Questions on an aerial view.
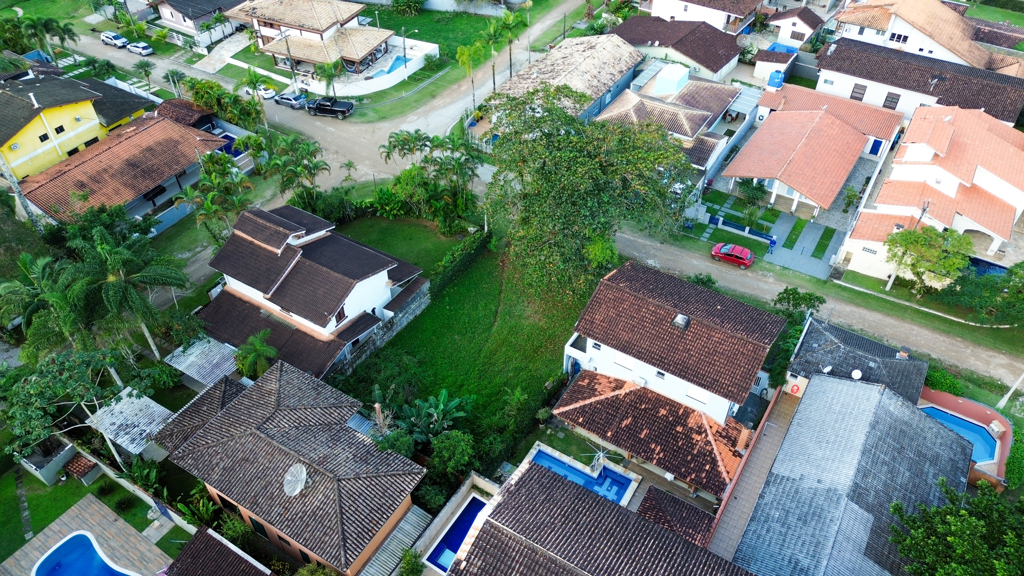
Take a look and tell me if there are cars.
Yes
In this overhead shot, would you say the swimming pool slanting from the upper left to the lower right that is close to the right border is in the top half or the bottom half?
bottom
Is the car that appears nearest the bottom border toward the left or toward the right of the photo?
right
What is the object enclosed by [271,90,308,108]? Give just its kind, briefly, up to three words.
car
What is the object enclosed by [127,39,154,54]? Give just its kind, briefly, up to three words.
car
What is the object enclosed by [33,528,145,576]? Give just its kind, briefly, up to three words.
swimming pool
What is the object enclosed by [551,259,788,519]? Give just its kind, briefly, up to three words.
house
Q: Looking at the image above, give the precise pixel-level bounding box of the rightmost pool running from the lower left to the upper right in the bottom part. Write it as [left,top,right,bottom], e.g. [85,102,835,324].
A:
[421,492,489,576]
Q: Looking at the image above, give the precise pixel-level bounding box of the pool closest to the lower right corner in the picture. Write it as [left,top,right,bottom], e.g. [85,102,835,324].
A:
[916,402,1004,466]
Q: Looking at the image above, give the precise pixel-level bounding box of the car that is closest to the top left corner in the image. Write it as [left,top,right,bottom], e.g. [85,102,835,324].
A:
[98,29,127,48]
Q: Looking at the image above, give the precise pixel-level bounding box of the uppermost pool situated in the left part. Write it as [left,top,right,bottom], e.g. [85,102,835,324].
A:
[369,54,415,78]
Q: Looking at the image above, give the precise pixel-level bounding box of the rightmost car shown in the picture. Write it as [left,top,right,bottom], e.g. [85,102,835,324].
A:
[709,243,759,270]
